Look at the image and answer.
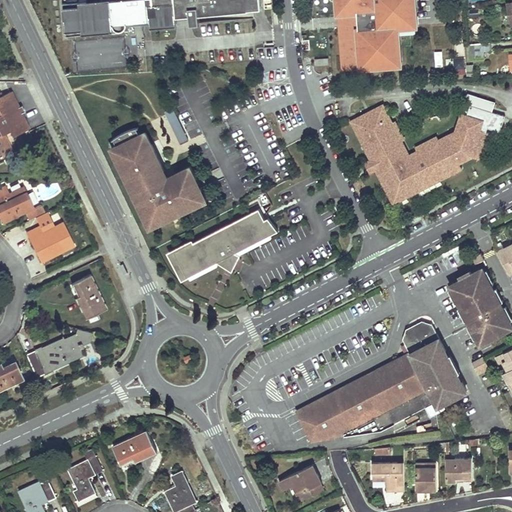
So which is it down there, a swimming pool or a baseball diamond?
swimming pool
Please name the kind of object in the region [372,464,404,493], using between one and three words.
house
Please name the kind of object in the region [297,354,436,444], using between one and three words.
building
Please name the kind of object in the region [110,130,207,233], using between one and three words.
building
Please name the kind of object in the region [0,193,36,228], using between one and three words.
house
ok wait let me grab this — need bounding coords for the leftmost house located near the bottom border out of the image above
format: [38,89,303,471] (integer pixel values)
[18,482,56,512]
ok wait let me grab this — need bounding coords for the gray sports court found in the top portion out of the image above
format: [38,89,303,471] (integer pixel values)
[74,36,128,73]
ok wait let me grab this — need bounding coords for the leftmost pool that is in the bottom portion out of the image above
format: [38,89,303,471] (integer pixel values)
[82,344,100,366]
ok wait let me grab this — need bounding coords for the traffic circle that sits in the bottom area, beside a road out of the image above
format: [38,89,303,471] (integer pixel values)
[125,294,242,425]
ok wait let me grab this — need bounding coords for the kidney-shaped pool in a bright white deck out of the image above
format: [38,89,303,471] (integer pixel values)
[33,182,62,202]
